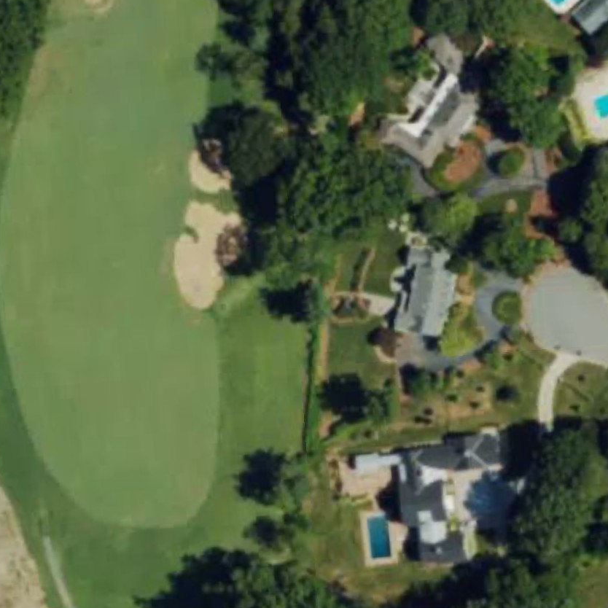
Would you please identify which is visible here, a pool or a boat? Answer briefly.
pool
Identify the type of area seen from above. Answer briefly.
golf course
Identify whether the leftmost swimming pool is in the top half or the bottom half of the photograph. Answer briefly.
bottom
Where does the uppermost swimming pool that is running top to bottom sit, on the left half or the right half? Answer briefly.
right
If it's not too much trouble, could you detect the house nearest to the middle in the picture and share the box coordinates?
[395,244,453,339]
